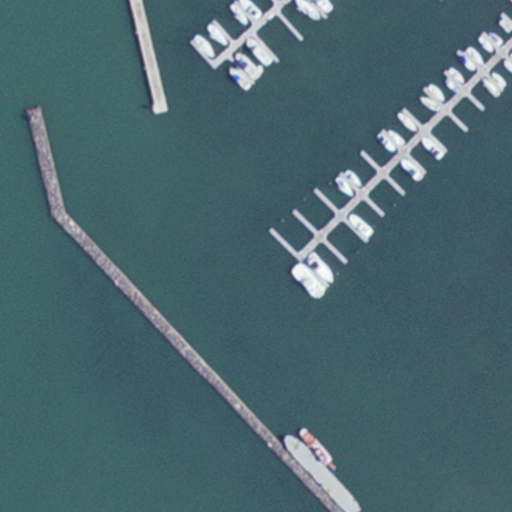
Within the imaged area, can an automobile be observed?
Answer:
No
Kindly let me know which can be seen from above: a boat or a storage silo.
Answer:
boat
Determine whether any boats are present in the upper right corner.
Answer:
Yes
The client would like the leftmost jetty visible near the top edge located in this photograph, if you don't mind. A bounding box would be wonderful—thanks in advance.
[130,0,167,115]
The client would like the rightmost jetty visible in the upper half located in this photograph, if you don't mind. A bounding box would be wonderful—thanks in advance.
[274,12,512,284]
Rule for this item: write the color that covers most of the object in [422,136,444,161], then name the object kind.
white boat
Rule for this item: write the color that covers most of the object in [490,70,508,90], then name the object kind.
white boat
